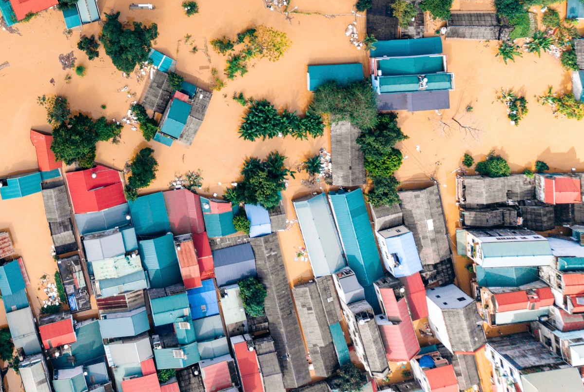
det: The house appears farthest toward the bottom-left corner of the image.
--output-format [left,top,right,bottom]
[18,345,51,392]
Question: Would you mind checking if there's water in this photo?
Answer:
Yes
